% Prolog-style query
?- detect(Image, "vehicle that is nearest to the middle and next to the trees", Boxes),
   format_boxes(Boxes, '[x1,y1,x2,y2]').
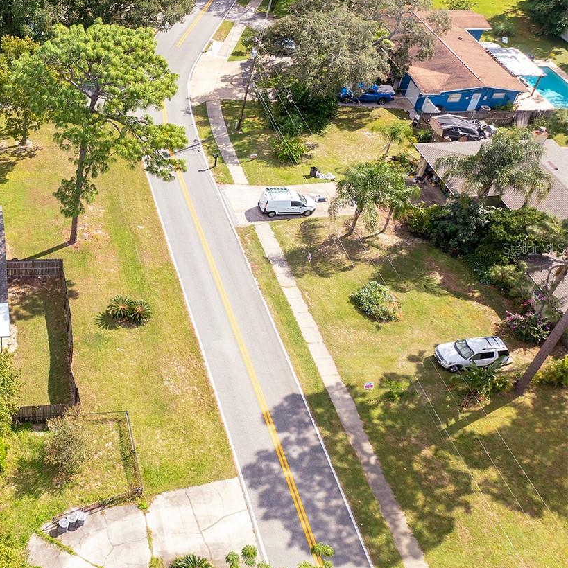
[258,188,319,218]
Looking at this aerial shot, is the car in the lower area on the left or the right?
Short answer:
right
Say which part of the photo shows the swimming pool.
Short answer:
top right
